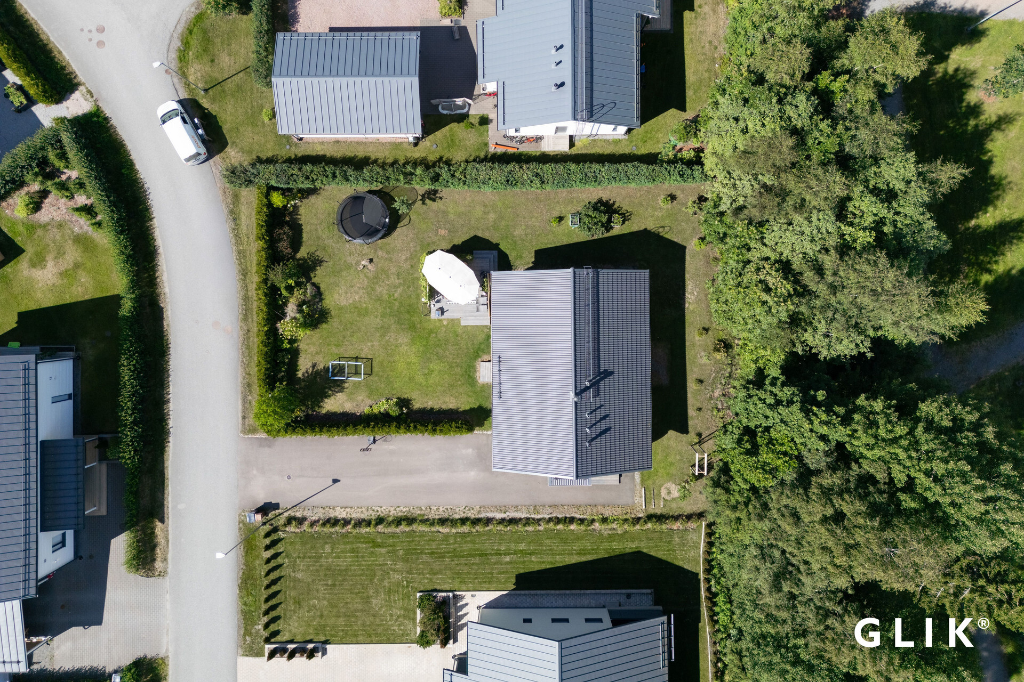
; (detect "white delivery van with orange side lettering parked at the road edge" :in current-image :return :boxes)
[156,100,210,170]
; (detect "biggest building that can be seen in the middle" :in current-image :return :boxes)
[488,265,652,486]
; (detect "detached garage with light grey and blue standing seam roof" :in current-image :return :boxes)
[270,30,424,145]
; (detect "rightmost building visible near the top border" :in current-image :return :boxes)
[476,0,661,141]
